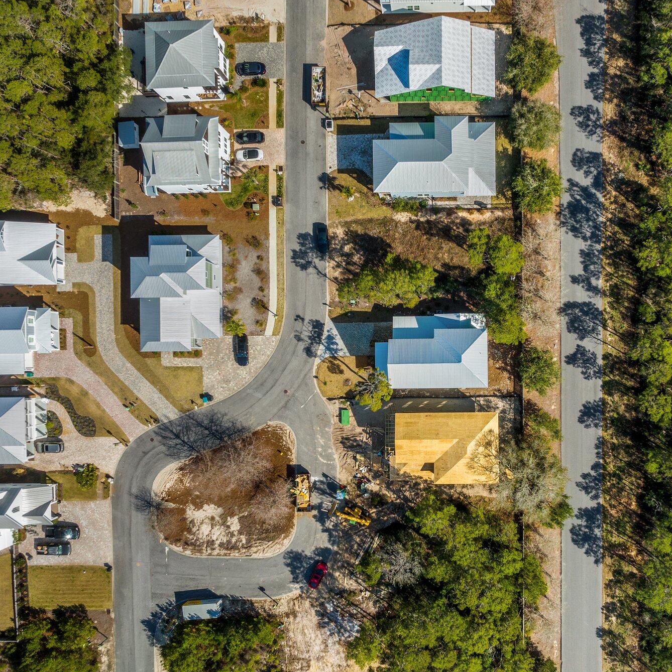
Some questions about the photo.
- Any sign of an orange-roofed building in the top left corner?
No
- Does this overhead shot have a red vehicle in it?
Yes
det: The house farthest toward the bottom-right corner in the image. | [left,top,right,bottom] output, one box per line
[386,412,498,484]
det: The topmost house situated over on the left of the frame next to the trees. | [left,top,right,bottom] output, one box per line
[145,19,230,100]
